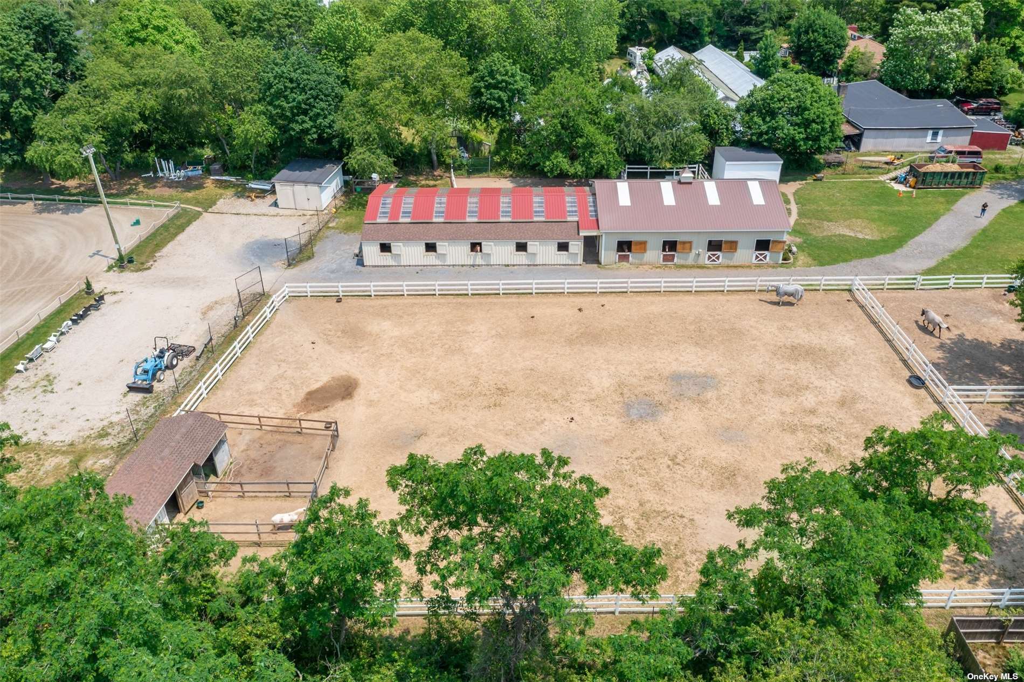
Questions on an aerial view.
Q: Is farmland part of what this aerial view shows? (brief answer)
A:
Yes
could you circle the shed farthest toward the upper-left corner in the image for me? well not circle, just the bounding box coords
[271,151,346,210]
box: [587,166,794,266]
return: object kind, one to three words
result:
building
